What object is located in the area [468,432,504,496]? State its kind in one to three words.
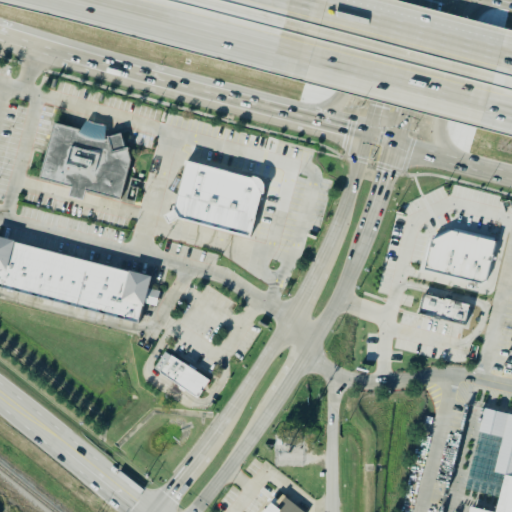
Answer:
house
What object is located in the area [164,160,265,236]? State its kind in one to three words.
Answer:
building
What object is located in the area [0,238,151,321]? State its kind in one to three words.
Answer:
building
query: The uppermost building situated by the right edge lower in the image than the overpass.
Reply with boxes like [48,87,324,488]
[425,230,497,282]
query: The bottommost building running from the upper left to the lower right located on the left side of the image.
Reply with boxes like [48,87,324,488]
[155,352,210,398]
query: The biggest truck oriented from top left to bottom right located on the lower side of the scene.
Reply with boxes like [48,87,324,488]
[112,466,144,494]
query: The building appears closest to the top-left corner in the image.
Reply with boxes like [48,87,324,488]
[40,120,131,198]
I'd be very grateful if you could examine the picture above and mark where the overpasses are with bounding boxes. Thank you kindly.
[0,0,512,135]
